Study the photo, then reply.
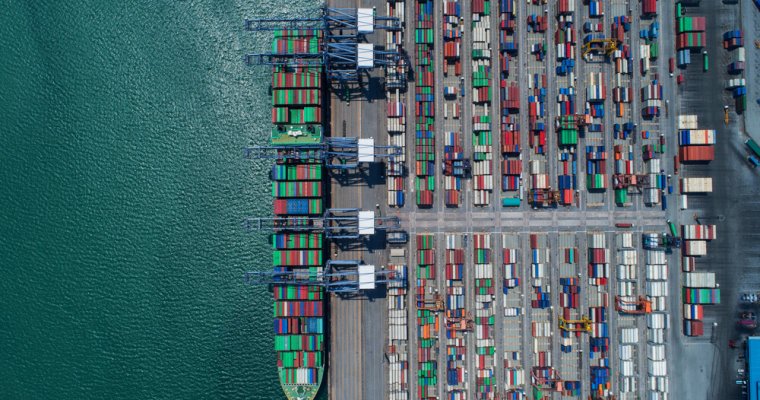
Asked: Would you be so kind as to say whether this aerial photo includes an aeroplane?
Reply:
No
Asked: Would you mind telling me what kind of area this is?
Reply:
port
